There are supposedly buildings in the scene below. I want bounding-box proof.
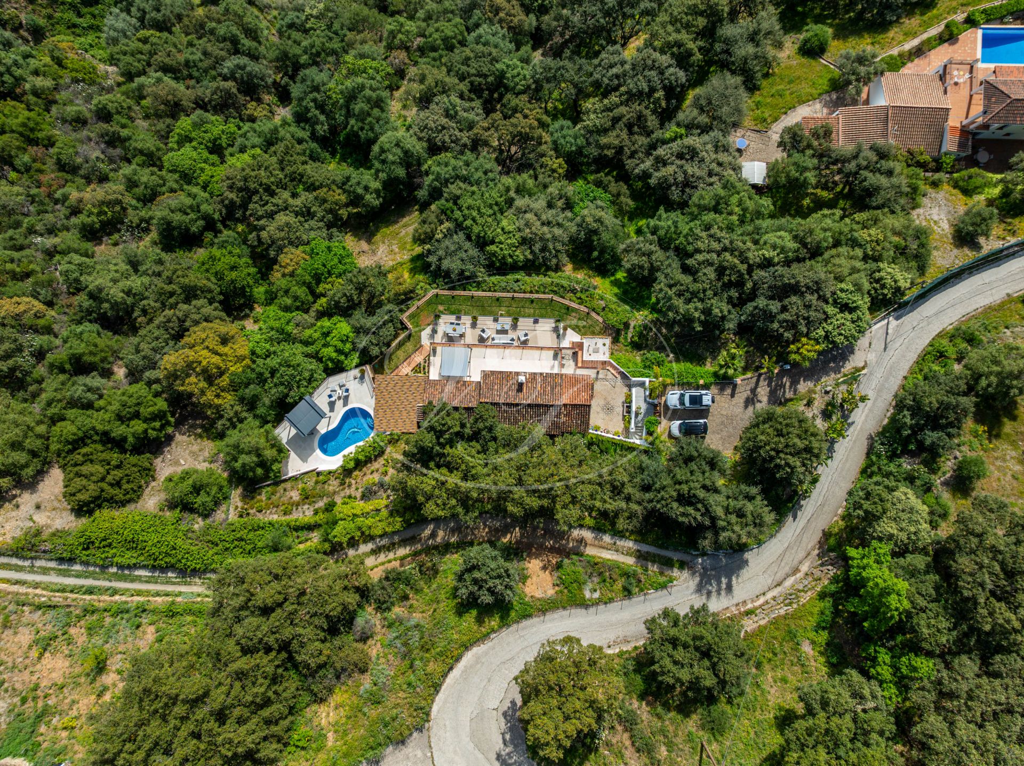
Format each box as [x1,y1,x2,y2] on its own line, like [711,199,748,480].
[792,71,973,165]
[739,161,766,185]
[373,370,594,437]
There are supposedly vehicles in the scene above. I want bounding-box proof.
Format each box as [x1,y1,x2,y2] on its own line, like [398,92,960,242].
[668,418,714,440]
[666,388,718,412]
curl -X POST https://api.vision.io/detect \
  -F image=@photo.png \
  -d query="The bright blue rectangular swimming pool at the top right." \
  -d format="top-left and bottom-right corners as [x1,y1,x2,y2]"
[978,25,1024,65]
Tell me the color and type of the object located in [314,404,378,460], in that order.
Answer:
blue swimming pool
